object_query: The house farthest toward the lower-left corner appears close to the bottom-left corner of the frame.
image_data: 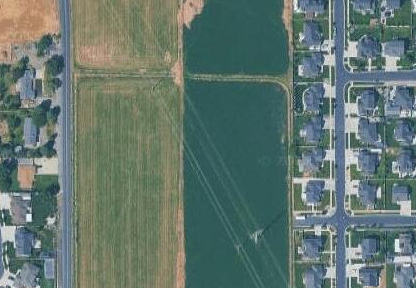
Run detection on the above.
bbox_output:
[16,262,42,288]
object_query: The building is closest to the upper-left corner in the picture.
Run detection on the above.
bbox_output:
[21,70,35,100]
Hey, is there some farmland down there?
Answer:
Yes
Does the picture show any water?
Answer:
No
